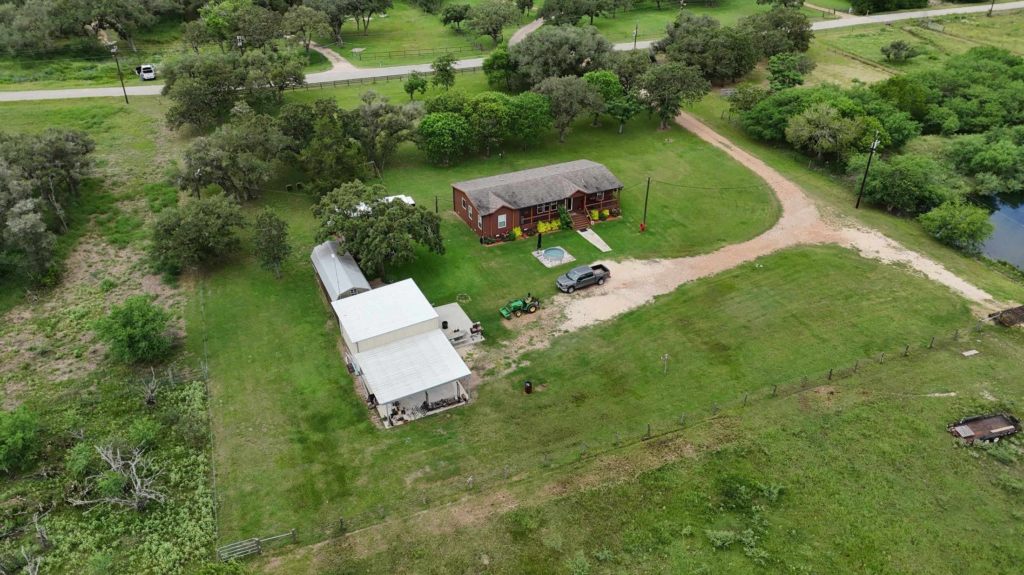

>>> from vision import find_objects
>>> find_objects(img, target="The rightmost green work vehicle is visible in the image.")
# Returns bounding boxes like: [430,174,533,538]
[500,290,545,321]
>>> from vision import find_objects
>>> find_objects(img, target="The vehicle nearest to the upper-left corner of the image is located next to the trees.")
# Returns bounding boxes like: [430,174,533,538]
[138,65,157,79]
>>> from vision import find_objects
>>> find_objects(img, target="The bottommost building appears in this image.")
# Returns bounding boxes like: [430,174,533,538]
[330,279,472,430]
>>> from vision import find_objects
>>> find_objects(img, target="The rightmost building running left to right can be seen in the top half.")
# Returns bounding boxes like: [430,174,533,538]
[449,159,626,243]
